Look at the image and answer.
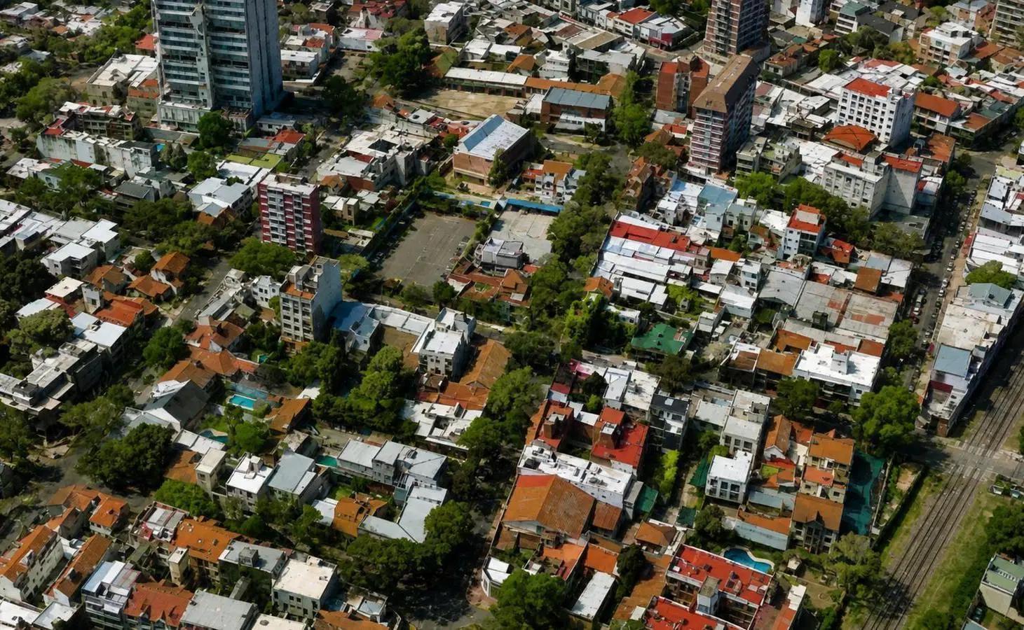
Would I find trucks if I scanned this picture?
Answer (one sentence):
No, the frame has no truck in it.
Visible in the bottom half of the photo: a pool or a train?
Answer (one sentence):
Looking in the bottom half of the photo, you will find a pool.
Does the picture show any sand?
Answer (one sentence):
No, there is no sand in the image.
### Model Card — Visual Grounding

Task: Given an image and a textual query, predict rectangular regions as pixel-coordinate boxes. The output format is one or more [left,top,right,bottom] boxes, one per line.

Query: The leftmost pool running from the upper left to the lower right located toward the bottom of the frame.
[199,429,225,446]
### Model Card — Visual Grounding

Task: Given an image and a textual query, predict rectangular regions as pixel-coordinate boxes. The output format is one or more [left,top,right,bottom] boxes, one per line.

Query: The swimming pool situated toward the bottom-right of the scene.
[722,546,775,575]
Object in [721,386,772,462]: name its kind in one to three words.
house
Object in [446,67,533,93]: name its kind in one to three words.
building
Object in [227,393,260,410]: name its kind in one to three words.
swimming pool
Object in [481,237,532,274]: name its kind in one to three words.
building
